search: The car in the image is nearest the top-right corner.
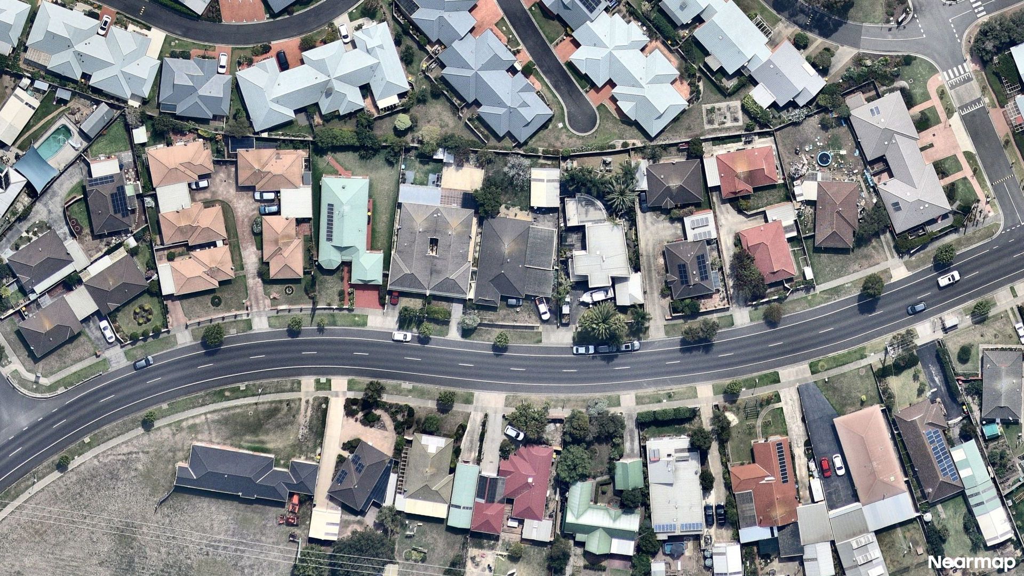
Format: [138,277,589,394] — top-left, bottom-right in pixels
[937,270,961,287]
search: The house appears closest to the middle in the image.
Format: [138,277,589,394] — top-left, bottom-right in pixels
[473,218,556,307]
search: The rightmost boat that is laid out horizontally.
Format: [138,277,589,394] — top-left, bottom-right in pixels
[580,288,613,301]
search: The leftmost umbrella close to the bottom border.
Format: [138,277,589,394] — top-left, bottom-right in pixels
[671,544,684,557]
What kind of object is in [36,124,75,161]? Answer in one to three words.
swimming pool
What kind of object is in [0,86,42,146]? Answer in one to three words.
shed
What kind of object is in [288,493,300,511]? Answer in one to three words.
vehicle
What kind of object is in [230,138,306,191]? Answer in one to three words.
house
